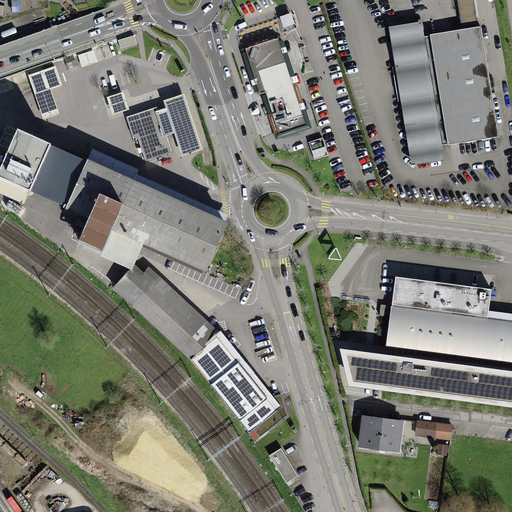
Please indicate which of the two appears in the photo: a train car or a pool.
train car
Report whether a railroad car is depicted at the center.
No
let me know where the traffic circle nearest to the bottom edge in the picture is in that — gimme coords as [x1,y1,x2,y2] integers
[234,172,308,246]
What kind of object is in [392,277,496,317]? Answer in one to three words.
building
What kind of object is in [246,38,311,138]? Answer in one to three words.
building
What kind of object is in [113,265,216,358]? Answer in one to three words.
shed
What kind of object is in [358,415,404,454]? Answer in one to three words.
house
